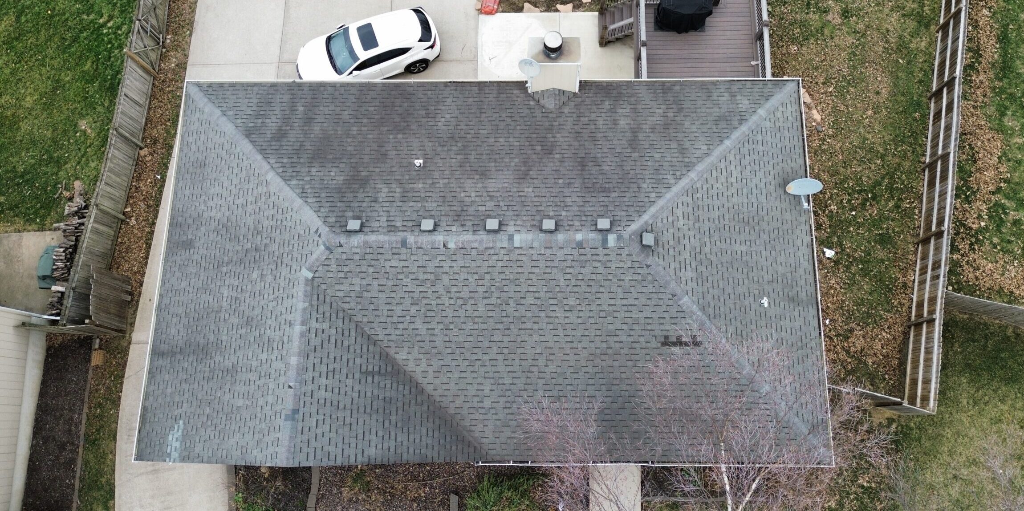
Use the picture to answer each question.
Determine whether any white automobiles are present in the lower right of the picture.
No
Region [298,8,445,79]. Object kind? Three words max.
car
